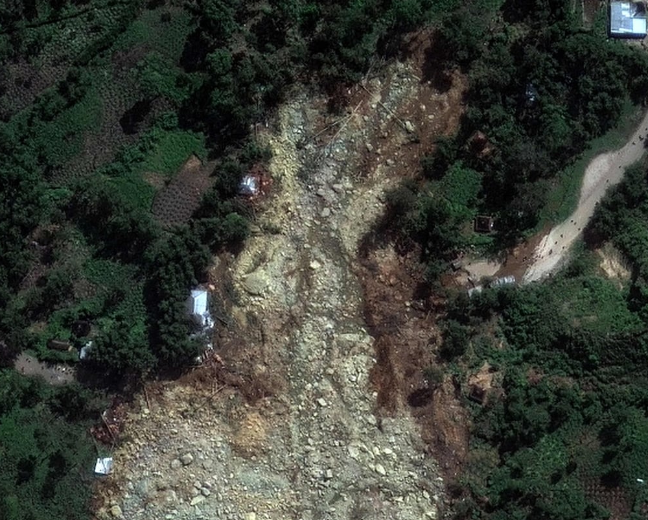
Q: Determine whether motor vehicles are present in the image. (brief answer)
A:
No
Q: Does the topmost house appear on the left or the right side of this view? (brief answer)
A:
right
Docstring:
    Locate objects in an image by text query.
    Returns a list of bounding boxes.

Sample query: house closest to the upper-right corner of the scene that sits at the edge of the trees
[612,0,648,32]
